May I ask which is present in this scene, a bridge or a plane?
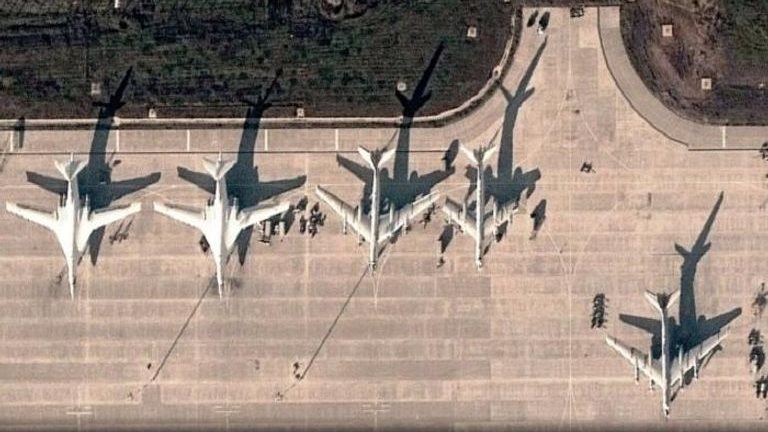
plane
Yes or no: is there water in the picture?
No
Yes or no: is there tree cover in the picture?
No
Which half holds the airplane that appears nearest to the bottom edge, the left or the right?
right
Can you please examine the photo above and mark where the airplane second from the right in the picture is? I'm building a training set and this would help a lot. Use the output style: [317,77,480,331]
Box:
[442,142,519,272]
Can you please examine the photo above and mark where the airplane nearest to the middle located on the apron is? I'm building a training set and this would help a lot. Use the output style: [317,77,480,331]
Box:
[315,142,438,277]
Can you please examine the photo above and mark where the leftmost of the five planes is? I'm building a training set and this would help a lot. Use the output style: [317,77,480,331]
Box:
[5,151,137,298]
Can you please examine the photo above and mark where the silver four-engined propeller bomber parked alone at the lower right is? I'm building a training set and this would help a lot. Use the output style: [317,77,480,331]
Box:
[603,287,726,418]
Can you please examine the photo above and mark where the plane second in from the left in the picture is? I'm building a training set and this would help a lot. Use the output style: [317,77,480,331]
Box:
[154,152,286,300]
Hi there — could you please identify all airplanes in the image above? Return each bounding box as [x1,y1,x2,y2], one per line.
[154,152,286,300]
[603,287,726,418]
[442,142,519,272]
[315,142,438,277]
[5,151,137,298]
